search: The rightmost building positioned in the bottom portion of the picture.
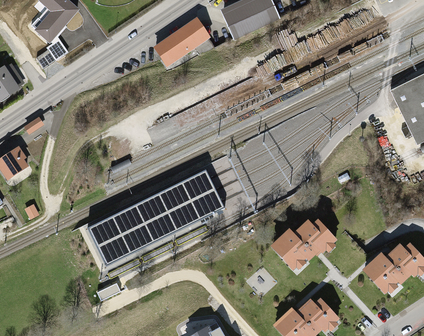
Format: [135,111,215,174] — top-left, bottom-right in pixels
[364,242,424,300]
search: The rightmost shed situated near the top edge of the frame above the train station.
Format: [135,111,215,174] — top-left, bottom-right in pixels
[222,0,280,39]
